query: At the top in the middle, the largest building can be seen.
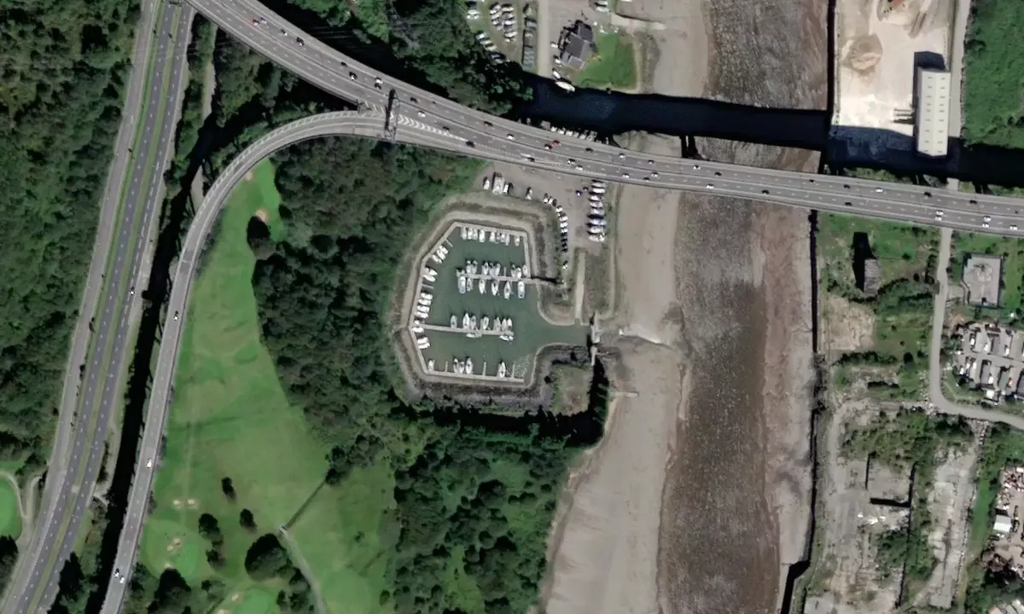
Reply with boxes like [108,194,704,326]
[556,23,595,71]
